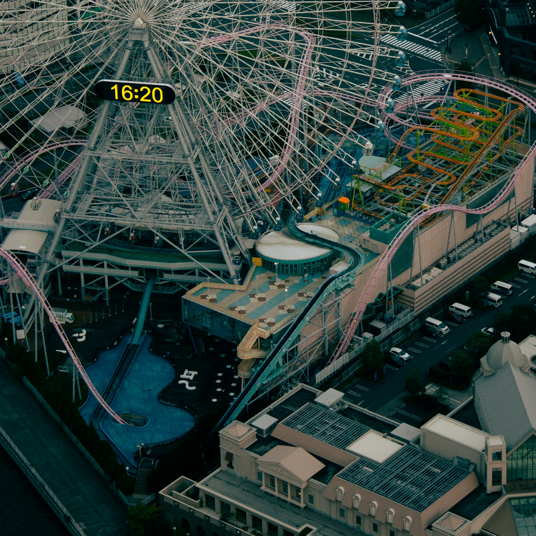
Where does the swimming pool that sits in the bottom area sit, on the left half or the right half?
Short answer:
left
